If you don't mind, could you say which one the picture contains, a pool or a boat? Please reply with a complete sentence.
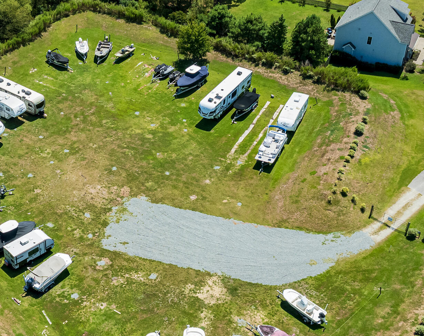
Looking from above, you can make out a boat.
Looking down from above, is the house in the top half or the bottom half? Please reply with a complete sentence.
The house sits in the top half of the picture.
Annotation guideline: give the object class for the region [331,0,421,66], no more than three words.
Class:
house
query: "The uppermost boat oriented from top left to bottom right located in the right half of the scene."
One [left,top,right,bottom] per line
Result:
[283,289,327,329]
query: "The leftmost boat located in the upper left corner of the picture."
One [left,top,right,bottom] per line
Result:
[45,49,69,63]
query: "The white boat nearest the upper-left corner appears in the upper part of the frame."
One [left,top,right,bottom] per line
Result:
[76,37,89,54]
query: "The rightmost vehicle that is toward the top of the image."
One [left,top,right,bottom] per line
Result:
[276,93,309,141]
